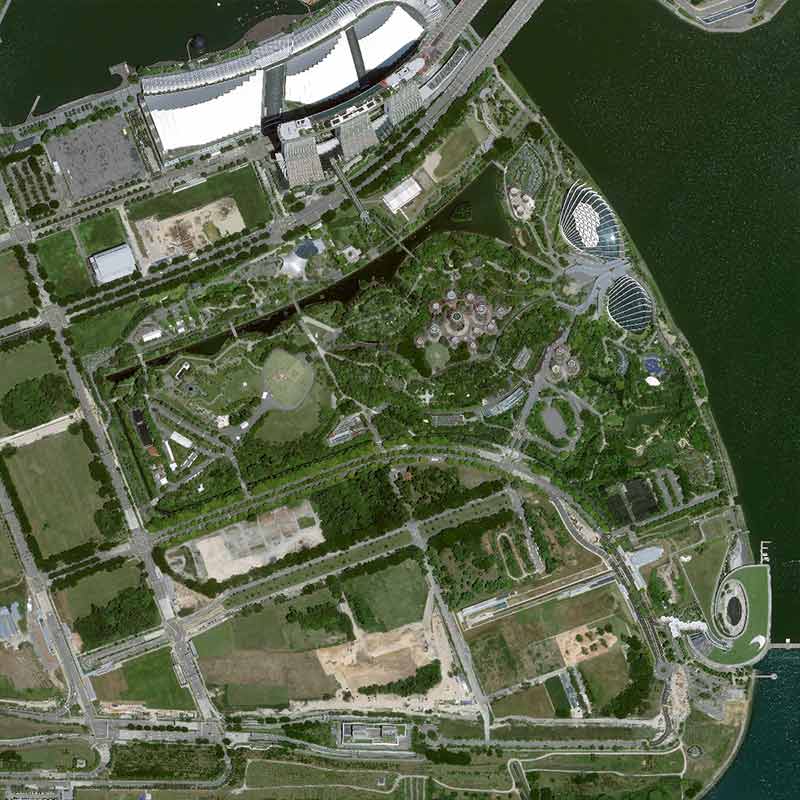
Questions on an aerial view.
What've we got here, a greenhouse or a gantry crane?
greenhouse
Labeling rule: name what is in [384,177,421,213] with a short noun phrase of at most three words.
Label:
shed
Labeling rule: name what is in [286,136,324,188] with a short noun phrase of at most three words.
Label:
building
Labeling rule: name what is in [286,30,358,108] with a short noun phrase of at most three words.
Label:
building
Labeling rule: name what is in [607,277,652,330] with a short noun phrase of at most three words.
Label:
greenhouse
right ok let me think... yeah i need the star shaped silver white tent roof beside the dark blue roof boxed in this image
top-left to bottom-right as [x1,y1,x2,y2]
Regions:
[280,254,307,280]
